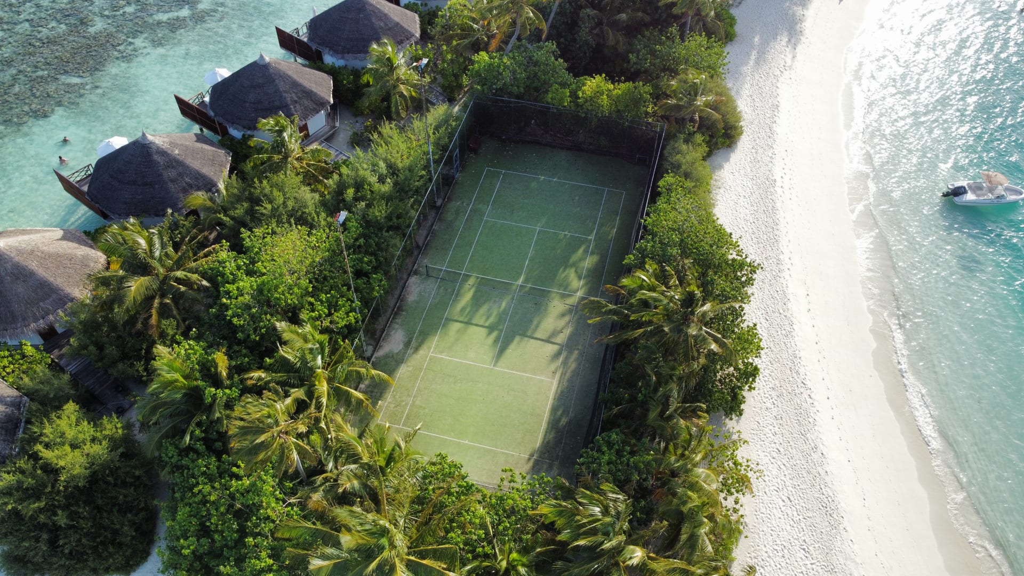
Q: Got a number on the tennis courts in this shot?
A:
one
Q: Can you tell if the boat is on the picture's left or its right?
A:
right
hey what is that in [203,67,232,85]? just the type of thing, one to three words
umbrella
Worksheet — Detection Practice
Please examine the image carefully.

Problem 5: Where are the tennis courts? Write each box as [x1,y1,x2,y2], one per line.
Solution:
[330,134,647,492]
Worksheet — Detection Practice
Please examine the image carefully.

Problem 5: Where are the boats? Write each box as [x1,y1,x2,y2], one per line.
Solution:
[940,172,1024,206]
